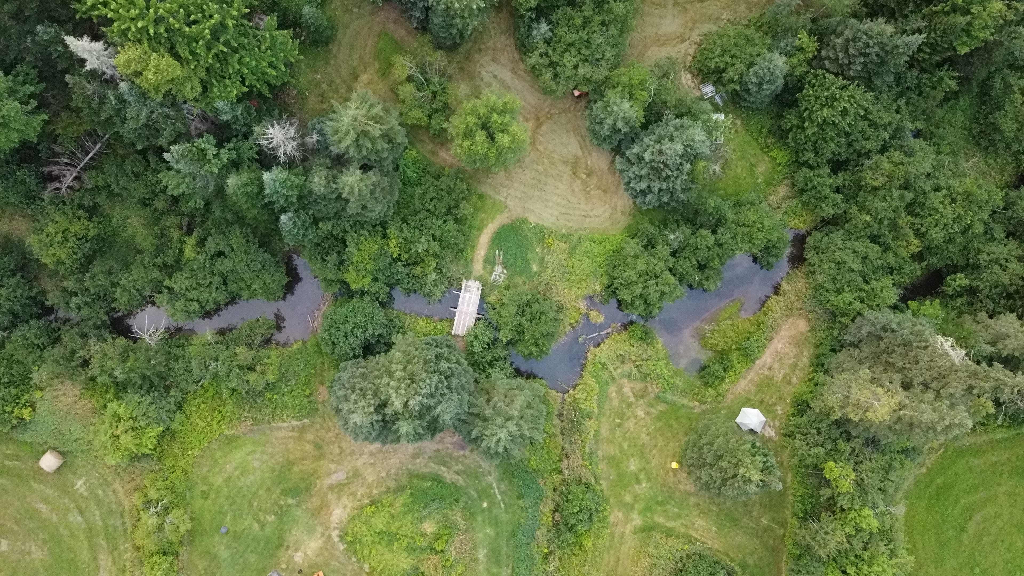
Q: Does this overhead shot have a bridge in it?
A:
Yes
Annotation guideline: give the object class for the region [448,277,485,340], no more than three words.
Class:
bridge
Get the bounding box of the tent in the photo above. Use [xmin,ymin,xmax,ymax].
[729,404,766,434]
